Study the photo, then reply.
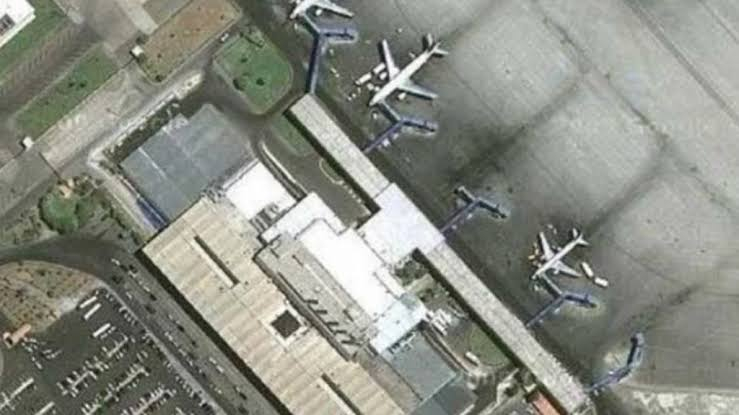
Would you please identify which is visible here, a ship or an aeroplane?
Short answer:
aeroplane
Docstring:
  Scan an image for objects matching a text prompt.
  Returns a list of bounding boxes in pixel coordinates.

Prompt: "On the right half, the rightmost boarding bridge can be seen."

[590,332,644,389]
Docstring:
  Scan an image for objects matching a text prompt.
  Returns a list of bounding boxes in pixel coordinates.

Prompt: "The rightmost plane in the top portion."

[370,34,448,104]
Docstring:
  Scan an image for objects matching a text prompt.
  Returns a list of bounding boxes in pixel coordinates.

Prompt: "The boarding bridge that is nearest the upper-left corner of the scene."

[304,12,358,95]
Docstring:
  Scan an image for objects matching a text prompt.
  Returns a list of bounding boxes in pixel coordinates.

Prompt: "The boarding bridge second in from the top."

[364,99,438,153]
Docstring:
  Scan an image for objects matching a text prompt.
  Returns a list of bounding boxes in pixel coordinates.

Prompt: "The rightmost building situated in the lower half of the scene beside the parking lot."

[121,105,477,415]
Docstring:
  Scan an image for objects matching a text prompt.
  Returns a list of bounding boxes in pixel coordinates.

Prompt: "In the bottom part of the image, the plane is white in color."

[533,227,588,278]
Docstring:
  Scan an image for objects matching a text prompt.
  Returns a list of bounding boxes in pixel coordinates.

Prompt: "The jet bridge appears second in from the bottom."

[526,275,598,326]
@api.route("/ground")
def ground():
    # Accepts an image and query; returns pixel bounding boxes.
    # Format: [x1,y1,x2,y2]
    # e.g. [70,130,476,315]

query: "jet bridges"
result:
[590,332,644,389]
[441,185,510,233]
[364,99,438,153]
[304,12,358,95]
[526,275,598,326]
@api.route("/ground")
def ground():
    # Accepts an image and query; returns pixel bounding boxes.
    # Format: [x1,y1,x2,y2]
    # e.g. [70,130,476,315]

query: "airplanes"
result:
[289,0,356,18]
[370,34,448,104]
[533,227,588,278]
